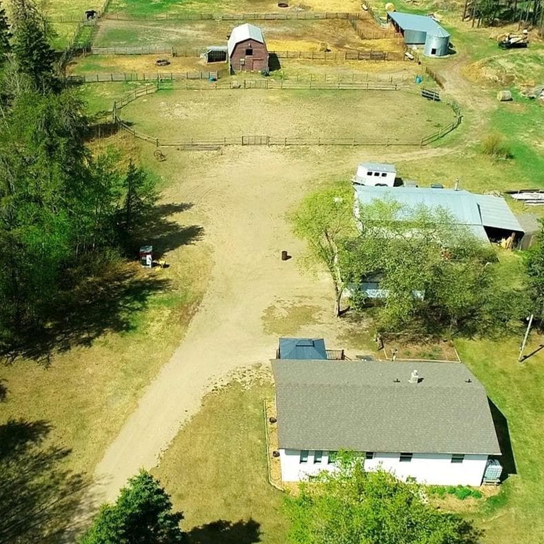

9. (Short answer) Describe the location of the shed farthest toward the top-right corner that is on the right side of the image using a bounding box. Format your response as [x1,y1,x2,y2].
[383,10,446,44]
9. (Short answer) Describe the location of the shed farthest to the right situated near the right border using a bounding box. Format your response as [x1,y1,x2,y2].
[517,219,544,252]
